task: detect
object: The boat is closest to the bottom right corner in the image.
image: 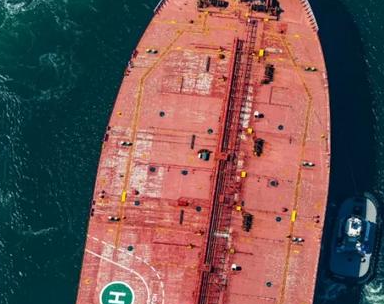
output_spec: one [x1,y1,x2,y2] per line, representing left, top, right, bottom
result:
[327,193,382,284]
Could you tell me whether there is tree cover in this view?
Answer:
No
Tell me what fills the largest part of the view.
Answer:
water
